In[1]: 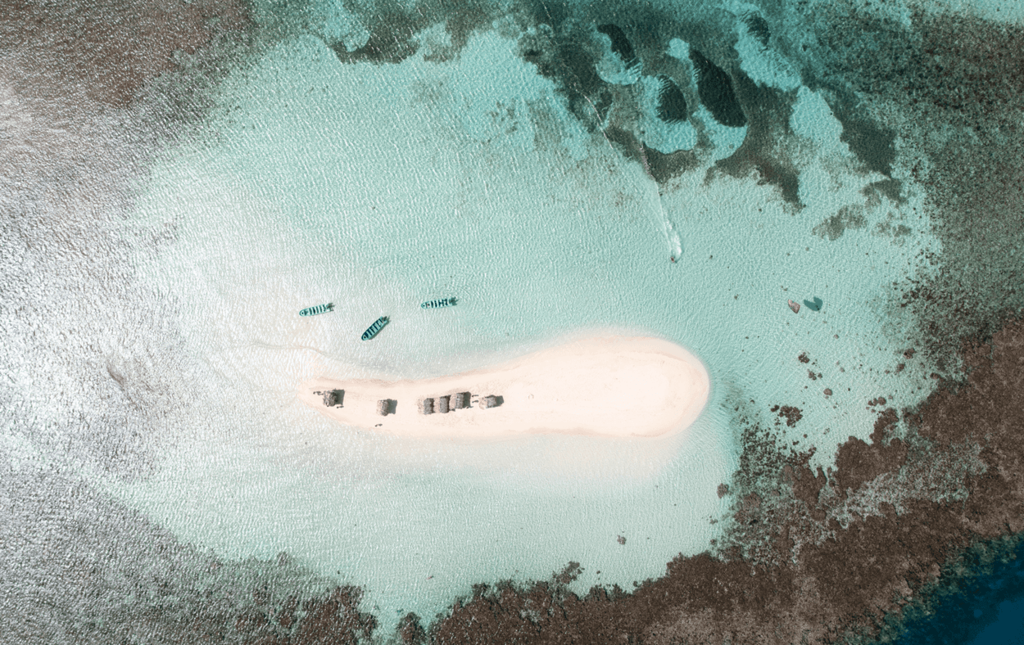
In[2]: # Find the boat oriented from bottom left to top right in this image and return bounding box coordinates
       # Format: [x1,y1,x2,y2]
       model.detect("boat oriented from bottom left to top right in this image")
[361,317,387,340]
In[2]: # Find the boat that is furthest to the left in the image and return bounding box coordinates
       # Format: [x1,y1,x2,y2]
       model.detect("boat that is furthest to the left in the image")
[299,304,333,316]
